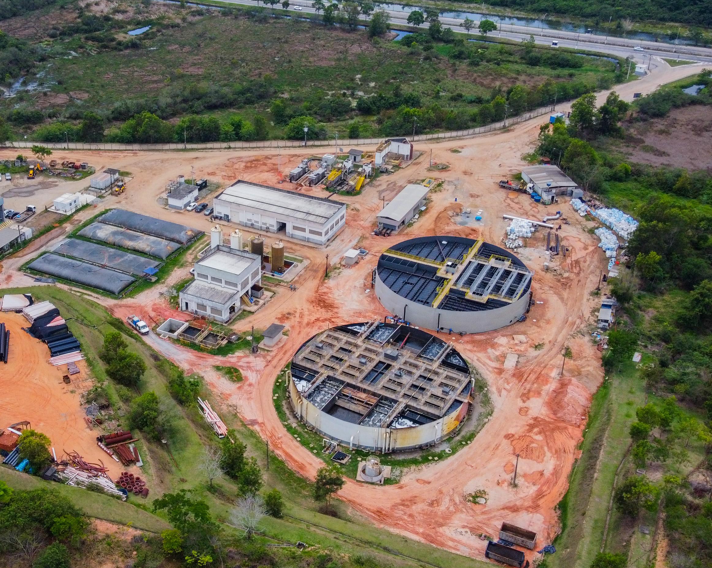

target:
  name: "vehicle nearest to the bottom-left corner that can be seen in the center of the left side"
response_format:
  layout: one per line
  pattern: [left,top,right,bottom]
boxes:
[125,310,150,331]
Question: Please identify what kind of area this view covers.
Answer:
industrial area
